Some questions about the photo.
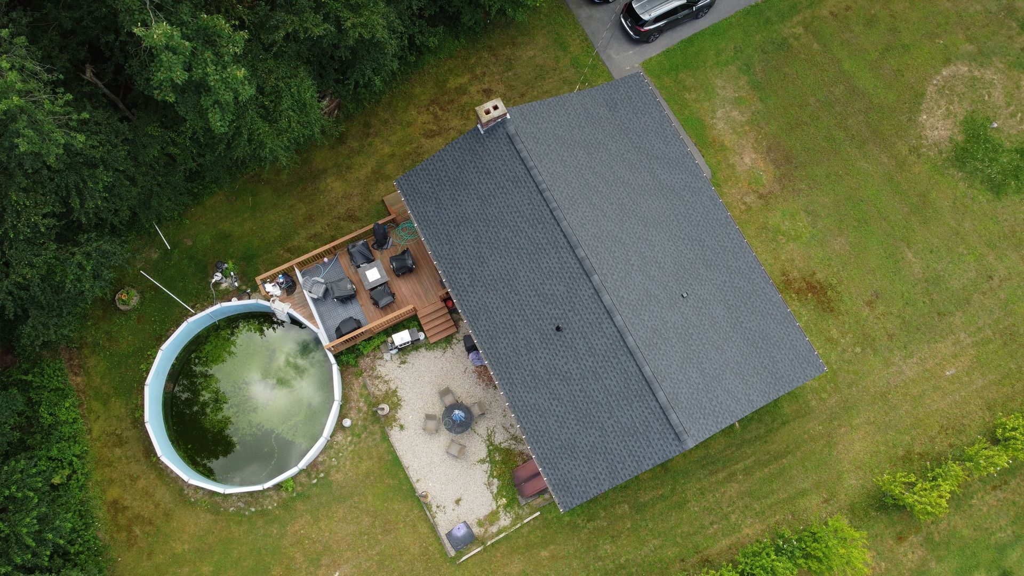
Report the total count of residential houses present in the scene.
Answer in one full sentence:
The photo contains exactly 1 residential house.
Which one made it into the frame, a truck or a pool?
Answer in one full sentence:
I can see a pool in this picture.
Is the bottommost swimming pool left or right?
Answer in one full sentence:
It is on the left.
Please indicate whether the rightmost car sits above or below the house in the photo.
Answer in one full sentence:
You can see the rightmost car above the house in the frame.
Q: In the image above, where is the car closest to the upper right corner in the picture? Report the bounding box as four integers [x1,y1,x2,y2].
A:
[619,0,716,42]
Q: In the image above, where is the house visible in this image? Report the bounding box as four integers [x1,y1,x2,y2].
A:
[394,71,827,514]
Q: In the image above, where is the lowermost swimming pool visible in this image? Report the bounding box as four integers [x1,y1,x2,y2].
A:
[145,298,347,495]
